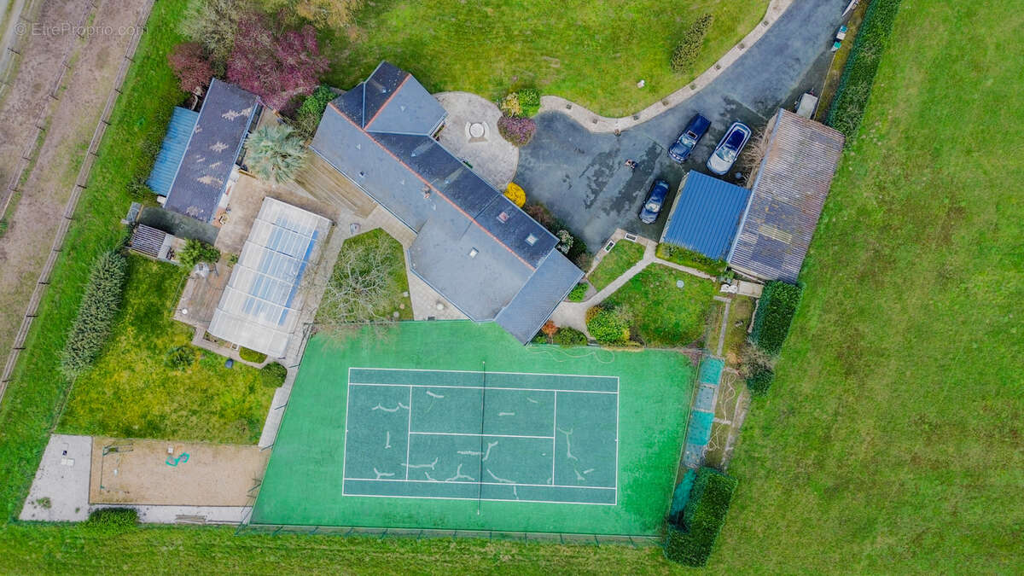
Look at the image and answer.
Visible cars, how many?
3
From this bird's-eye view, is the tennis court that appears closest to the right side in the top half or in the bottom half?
bottom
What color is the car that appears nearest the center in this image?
blue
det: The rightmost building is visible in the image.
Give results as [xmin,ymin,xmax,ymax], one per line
[720,108,845,284]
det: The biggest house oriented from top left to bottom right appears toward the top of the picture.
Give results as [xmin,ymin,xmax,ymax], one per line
[308,59,584,346]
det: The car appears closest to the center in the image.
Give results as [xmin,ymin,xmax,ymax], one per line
[640,179,670,225]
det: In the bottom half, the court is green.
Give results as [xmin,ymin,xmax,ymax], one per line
[250,321,701,538]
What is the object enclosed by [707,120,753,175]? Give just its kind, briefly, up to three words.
car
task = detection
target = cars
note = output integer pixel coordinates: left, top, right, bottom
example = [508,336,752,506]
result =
[707,120,753,175]
[666,112,713,166]
[640,179,670,225]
